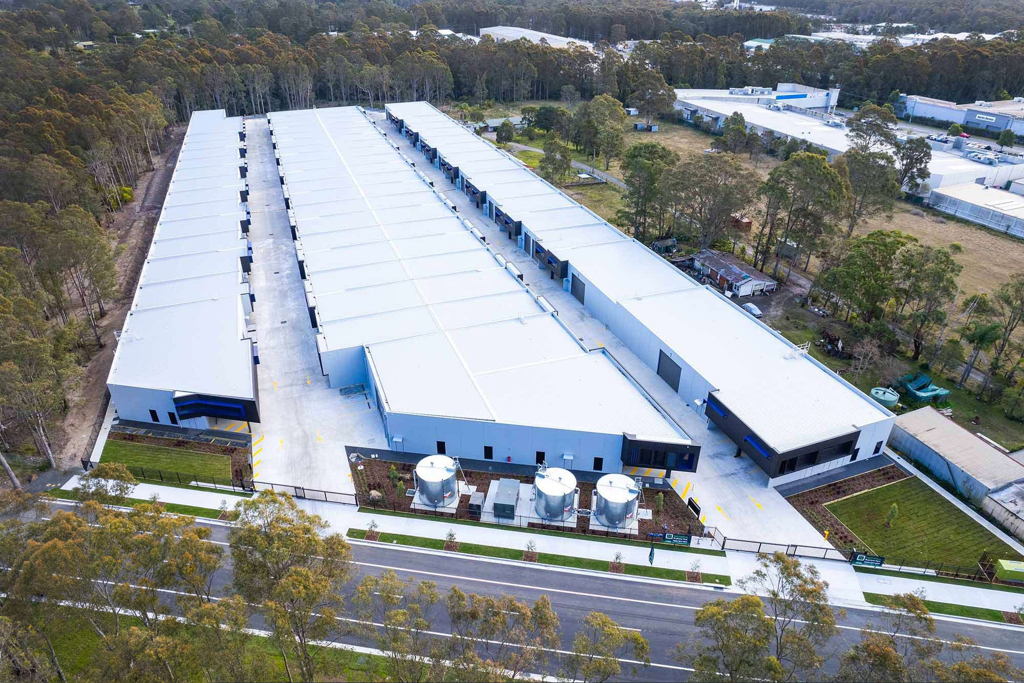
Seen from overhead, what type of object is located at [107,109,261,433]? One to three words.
warehouse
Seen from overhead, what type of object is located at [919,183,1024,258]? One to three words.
shed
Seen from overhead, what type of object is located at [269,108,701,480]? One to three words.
warehouse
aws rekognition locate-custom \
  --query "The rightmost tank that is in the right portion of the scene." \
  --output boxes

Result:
[869,378,898,406]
